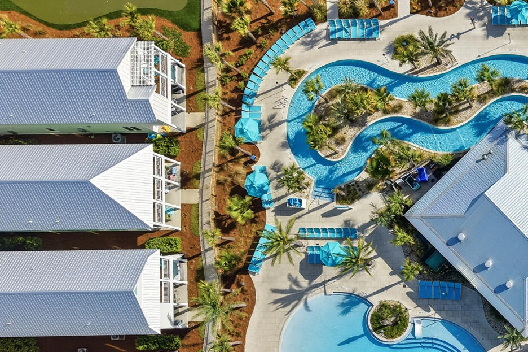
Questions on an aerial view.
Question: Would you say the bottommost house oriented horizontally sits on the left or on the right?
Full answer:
It is on the left.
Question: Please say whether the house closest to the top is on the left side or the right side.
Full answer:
The house closest to the top is on the left side of the image.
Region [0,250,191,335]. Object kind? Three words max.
house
